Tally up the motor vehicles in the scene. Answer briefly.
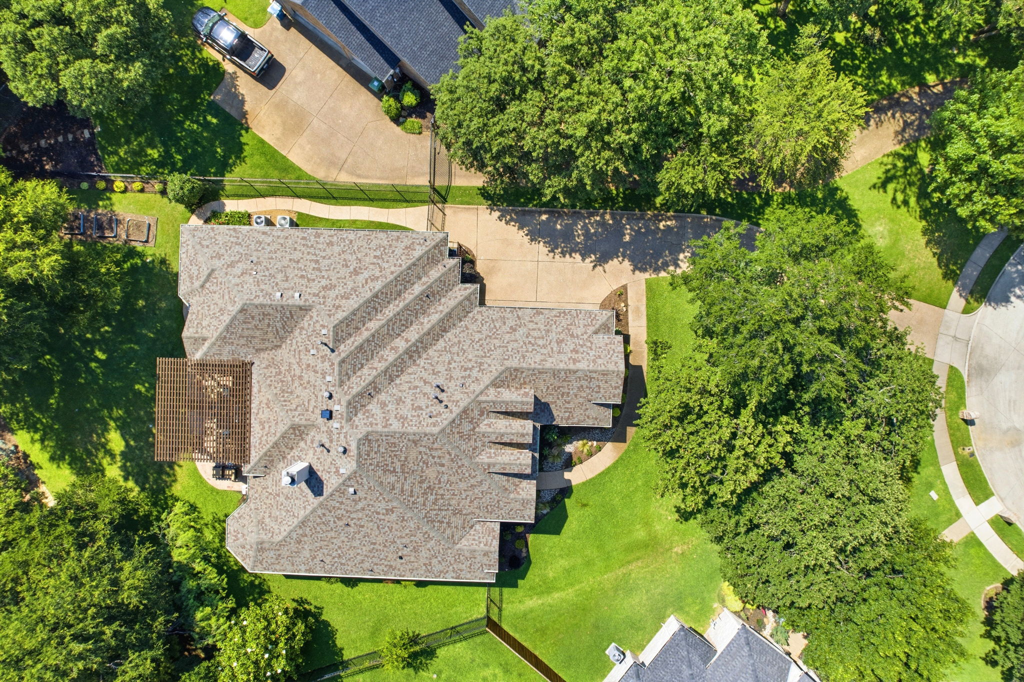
one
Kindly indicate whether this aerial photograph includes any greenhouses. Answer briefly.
No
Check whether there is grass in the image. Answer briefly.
Yes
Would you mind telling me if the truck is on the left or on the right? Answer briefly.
left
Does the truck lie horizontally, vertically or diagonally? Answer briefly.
diagonally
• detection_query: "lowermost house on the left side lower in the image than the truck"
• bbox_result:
[177,223,625,583]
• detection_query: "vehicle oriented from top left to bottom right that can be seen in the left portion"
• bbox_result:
[191,4,279,82]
